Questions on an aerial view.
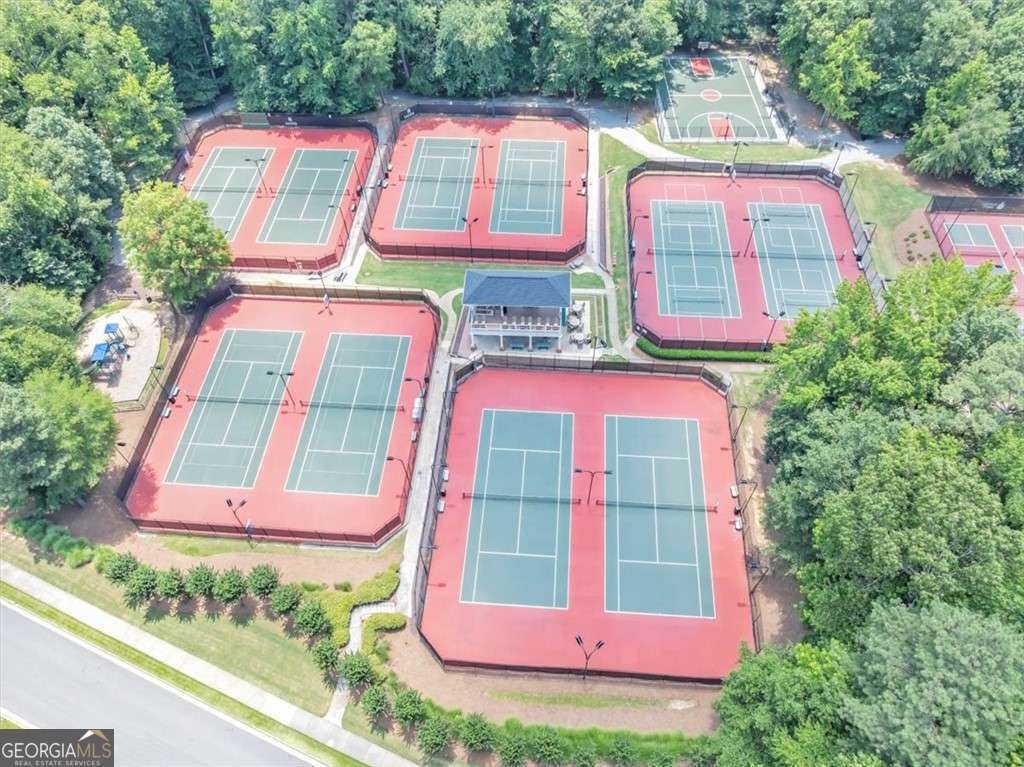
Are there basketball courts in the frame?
Yes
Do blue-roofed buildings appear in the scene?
Yes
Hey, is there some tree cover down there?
Yes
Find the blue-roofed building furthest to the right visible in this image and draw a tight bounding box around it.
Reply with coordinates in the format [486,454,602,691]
[462,269,571,353]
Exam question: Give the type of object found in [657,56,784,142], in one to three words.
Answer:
basketball court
